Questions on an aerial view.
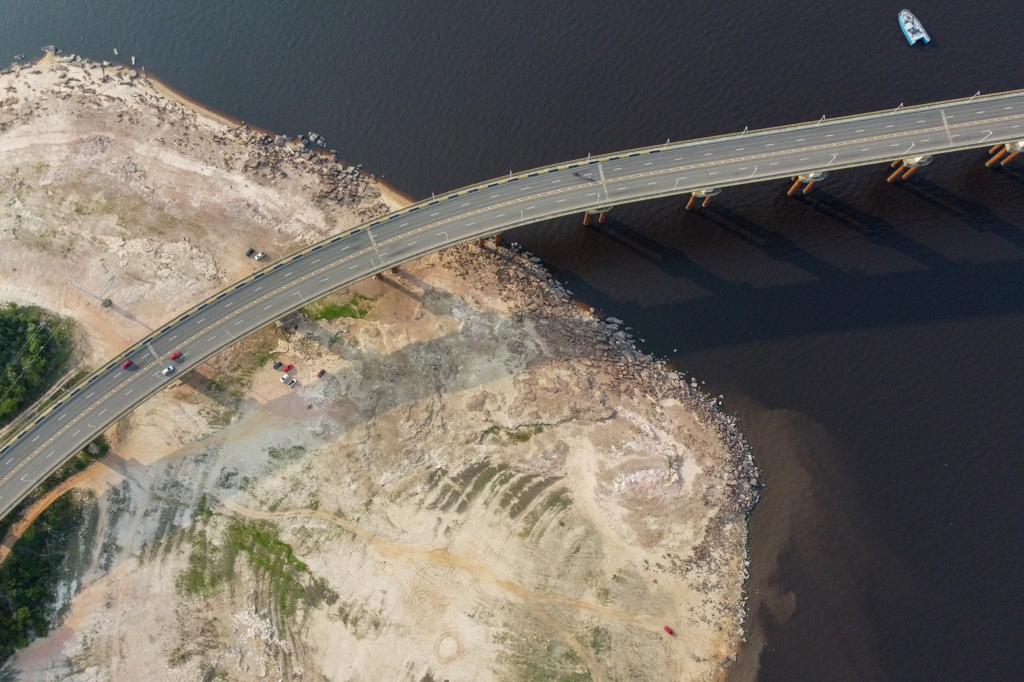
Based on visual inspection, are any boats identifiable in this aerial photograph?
Yes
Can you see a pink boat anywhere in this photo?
No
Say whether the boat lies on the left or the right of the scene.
right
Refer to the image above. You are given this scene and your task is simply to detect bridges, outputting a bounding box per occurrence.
[0,87,1024,522]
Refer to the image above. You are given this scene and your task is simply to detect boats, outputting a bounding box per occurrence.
[899,6,931,45]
